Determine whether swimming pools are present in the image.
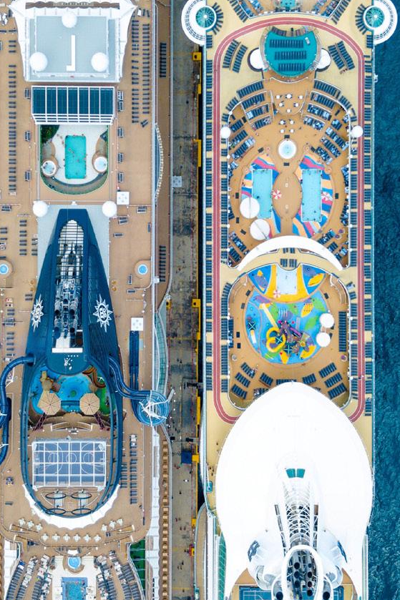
Yes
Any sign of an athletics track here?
Yes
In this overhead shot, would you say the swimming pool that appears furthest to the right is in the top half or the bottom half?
top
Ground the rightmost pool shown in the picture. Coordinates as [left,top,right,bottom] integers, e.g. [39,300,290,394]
[293,155,334,237]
